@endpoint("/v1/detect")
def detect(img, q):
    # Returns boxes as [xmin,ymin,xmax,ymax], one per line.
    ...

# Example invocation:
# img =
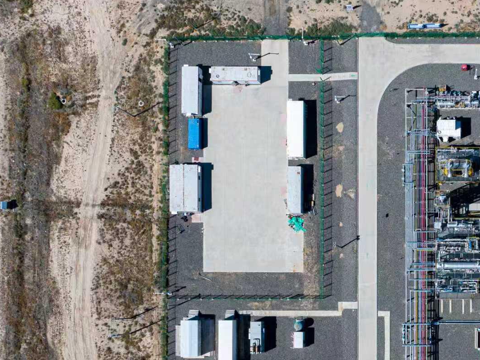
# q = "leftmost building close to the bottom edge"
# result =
[175,310,213,360]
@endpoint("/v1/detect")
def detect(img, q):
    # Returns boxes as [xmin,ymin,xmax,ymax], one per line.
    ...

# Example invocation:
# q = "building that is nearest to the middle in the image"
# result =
[170,165,202,214]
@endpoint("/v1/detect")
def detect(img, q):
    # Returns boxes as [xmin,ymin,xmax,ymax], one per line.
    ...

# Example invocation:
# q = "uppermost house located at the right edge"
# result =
[437,117,462,144]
